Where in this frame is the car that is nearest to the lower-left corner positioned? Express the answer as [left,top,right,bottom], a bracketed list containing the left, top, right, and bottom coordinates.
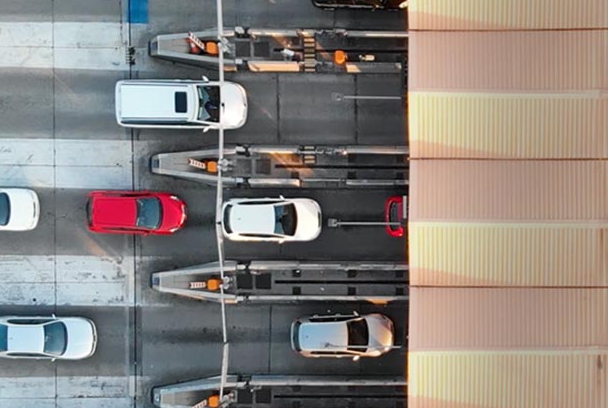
[0,313,98,364]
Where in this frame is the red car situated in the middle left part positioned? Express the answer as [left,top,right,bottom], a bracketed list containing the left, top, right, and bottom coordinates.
[85,188,187,238]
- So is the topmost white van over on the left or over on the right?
left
